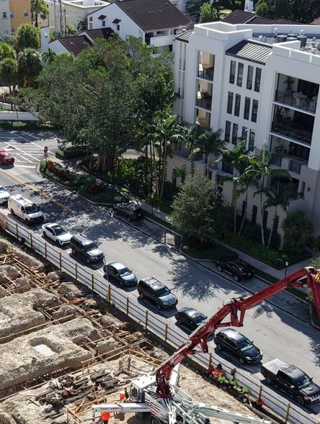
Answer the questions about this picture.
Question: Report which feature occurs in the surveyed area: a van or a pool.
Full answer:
Of the two, only a van appears.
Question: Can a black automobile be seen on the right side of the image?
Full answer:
Yes, a black automobile is visible on the right side of the image.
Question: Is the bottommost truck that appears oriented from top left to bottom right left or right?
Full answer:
You can find the bottommost truck that appears oriented from top left to bottom right on the right side of the picture.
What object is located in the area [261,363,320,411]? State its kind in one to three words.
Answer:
truck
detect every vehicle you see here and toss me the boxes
[0,184,8,205]
[41,225,73,249]
[219,258,263,283]
[68,235,107,267]
[0,152,18,168]
[5,192,43,224]
[261,363,320,411]
[170,306,206,334]
[92,263,320,424]
[99,263,141,291]
[213,330,264,369]
[135,280,179,313]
